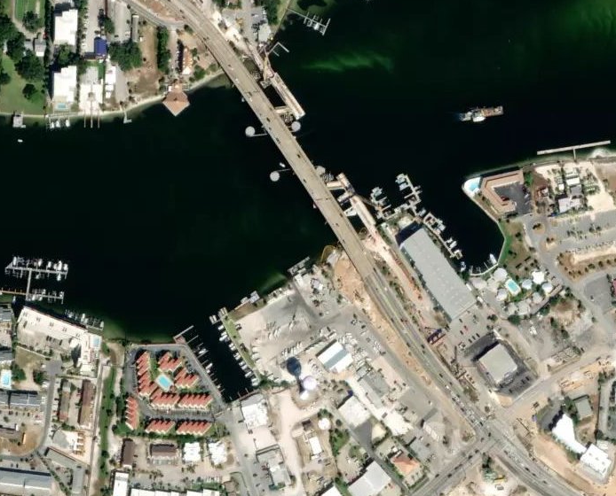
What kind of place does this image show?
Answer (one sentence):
The picture captures a port.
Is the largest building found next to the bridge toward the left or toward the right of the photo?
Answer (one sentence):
You can find the largest building found next to the bridge on the right side of the picture.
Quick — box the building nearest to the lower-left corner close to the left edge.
[0,471,51,492]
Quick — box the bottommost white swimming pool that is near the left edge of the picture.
[0,372,14,388]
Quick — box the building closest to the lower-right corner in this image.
[580,444,609,481]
